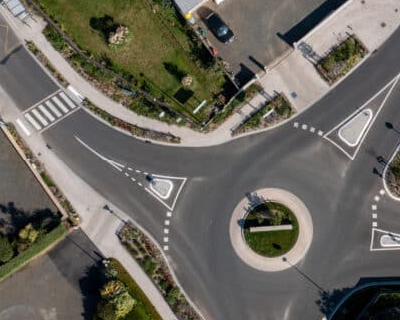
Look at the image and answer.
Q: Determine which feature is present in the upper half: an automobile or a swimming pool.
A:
automobile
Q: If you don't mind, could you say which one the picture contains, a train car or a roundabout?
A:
roundabout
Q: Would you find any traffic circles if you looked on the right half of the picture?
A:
Yes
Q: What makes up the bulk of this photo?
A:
paved ground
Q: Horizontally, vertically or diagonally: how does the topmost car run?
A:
diagonally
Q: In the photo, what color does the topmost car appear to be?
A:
black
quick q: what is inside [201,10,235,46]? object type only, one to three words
car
